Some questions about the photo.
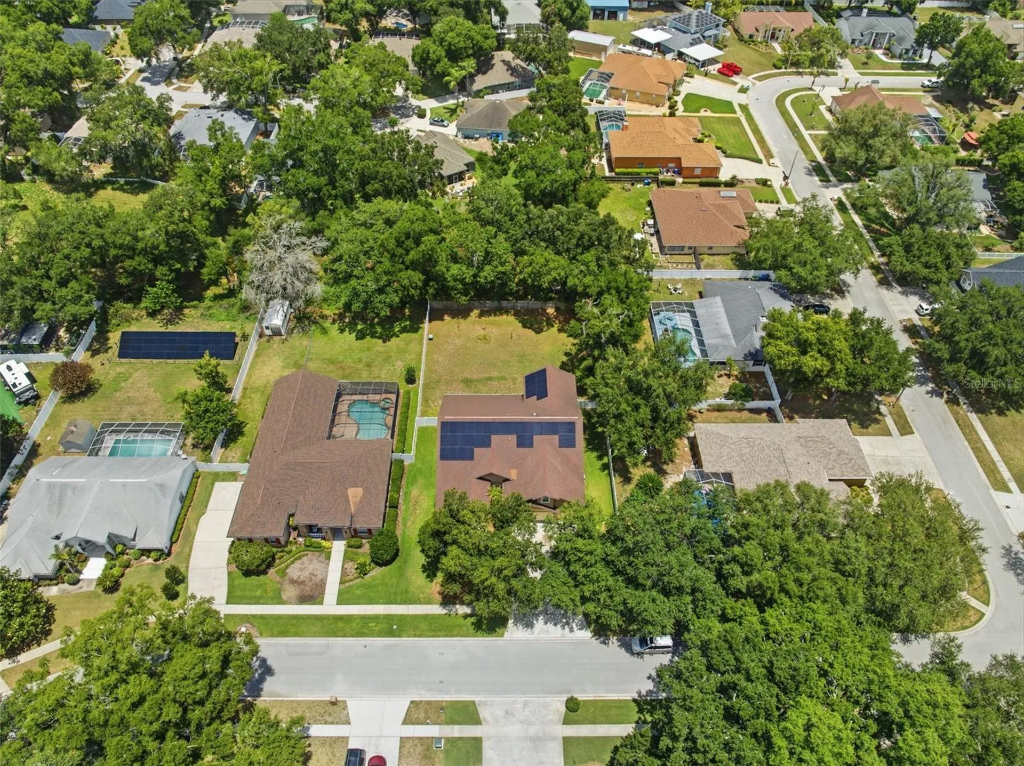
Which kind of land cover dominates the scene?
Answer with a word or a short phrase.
trees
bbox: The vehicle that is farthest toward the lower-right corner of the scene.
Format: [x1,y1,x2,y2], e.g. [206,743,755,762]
[630,636,675,657]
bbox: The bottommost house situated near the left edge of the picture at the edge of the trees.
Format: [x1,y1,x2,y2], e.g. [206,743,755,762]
[0,450,196,585]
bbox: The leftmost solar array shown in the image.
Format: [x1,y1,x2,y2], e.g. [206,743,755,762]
[118,333,235,362]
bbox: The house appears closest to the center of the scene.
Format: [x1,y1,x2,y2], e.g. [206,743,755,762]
[435,365,586,520]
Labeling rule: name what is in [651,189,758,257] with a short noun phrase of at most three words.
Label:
house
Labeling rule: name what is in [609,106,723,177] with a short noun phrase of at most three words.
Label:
house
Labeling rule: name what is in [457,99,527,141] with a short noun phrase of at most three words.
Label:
building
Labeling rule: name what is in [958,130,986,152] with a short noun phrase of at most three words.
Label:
gazebo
